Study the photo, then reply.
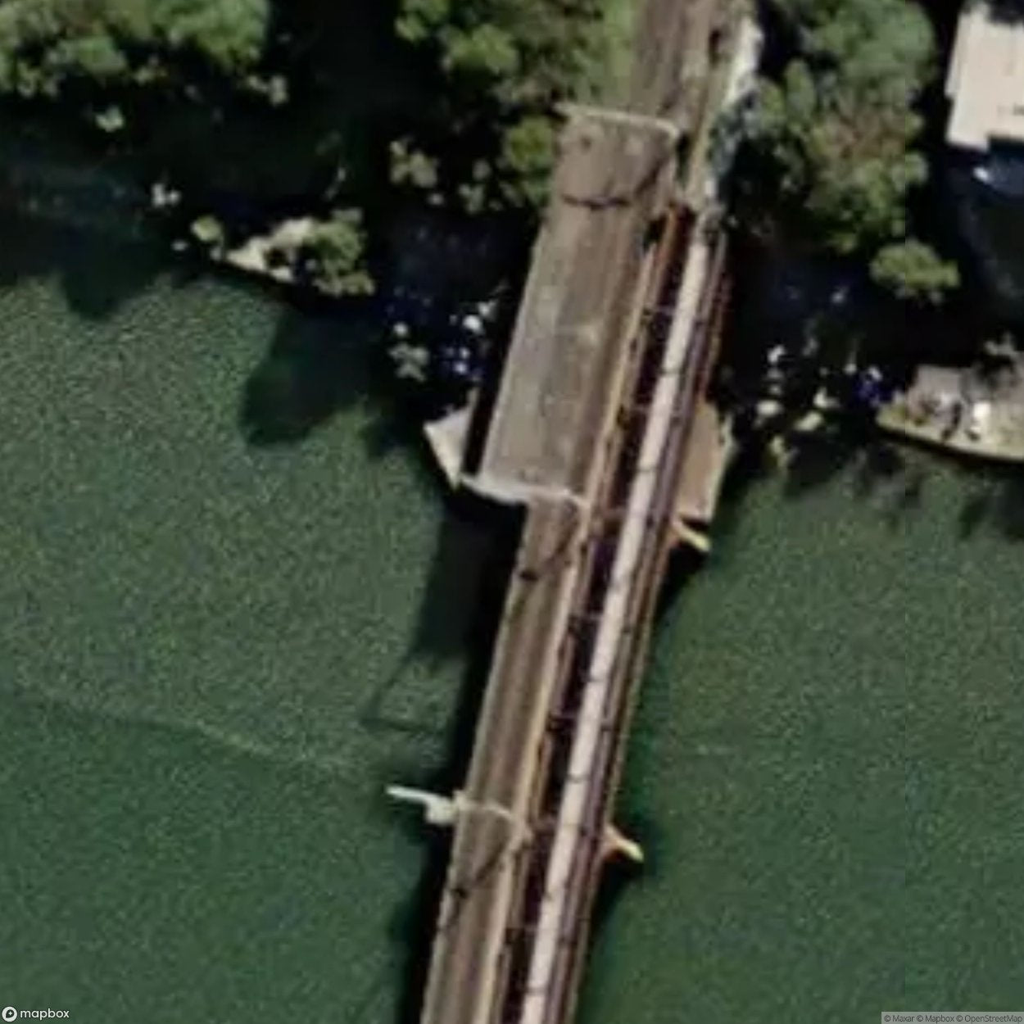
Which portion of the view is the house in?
top right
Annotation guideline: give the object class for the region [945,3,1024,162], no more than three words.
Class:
house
